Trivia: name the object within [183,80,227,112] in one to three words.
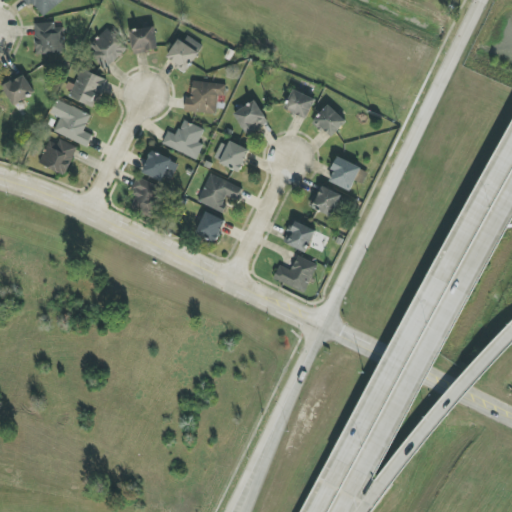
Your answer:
house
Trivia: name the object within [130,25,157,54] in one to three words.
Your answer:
house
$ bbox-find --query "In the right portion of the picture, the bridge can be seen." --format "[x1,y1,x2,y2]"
[300,121,512,512]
